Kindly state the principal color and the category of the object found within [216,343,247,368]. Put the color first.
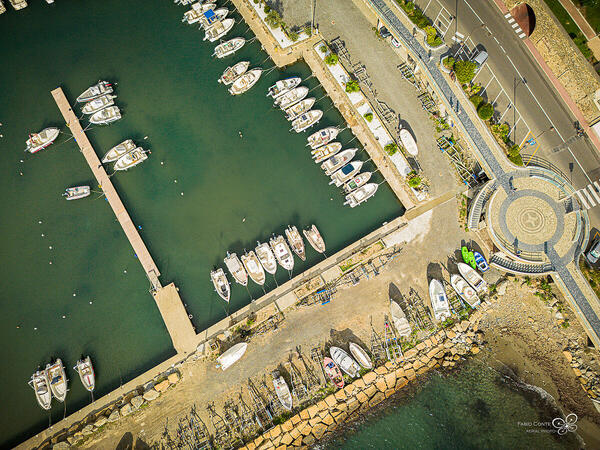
white boat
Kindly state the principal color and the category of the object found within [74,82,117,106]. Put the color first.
white boat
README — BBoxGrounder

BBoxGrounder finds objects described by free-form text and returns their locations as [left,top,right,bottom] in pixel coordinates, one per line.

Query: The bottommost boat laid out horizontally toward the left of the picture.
[62,186,103,200]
